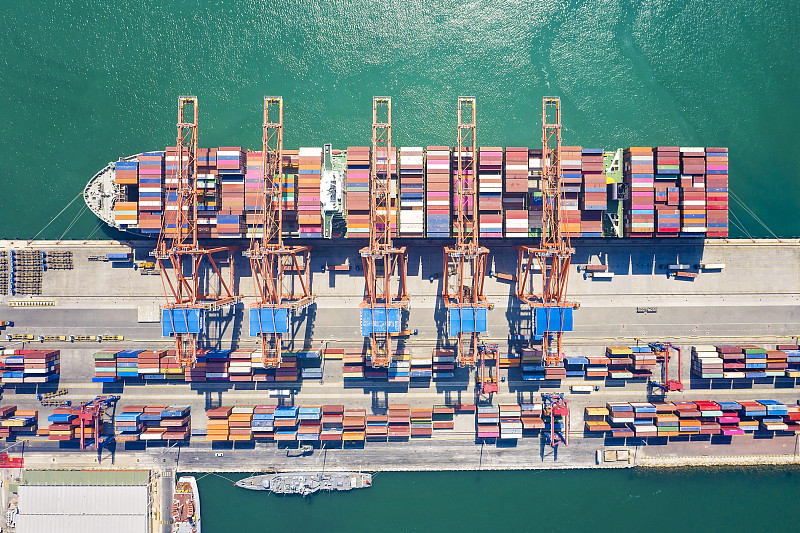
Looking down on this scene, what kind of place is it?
port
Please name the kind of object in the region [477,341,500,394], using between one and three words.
container crane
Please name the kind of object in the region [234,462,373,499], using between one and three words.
ship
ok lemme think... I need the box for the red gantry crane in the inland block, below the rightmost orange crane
[541,392,569,448]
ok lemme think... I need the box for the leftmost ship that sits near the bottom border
[170,471,204,533]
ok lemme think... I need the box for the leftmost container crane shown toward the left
[81,393,123,449]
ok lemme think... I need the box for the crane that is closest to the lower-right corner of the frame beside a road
[648,338,683,392]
